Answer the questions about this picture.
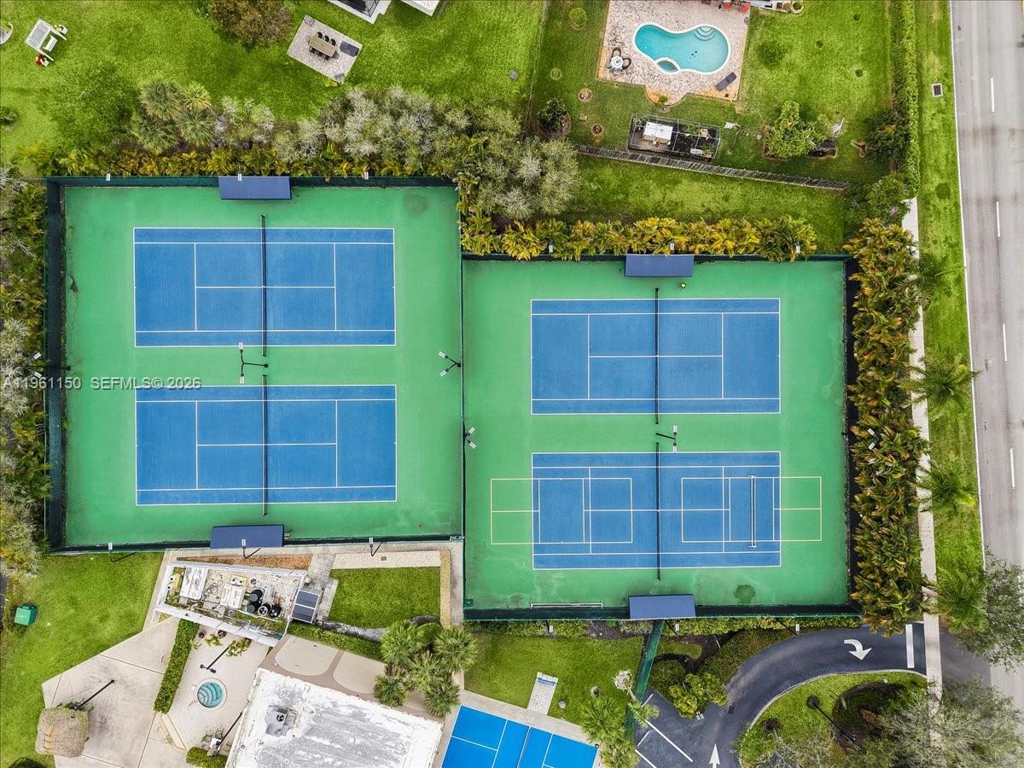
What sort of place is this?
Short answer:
sports ground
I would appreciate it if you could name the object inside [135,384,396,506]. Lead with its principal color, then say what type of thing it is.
blue tennis court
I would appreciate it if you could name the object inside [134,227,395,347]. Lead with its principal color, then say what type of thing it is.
blue tennis court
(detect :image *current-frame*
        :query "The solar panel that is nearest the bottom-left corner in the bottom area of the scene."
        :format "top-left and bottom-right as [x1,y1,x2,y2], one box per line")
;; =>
[292,586,323,622]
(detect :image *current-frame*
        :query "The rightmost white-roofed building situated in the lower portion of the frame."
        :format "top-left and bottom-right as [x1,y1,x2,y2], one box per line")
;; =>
[224,669,445,768]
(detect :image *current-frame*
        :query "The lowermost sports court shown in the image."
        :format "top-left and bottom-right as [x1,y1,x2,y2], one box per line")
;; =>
[442,705,598,768]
